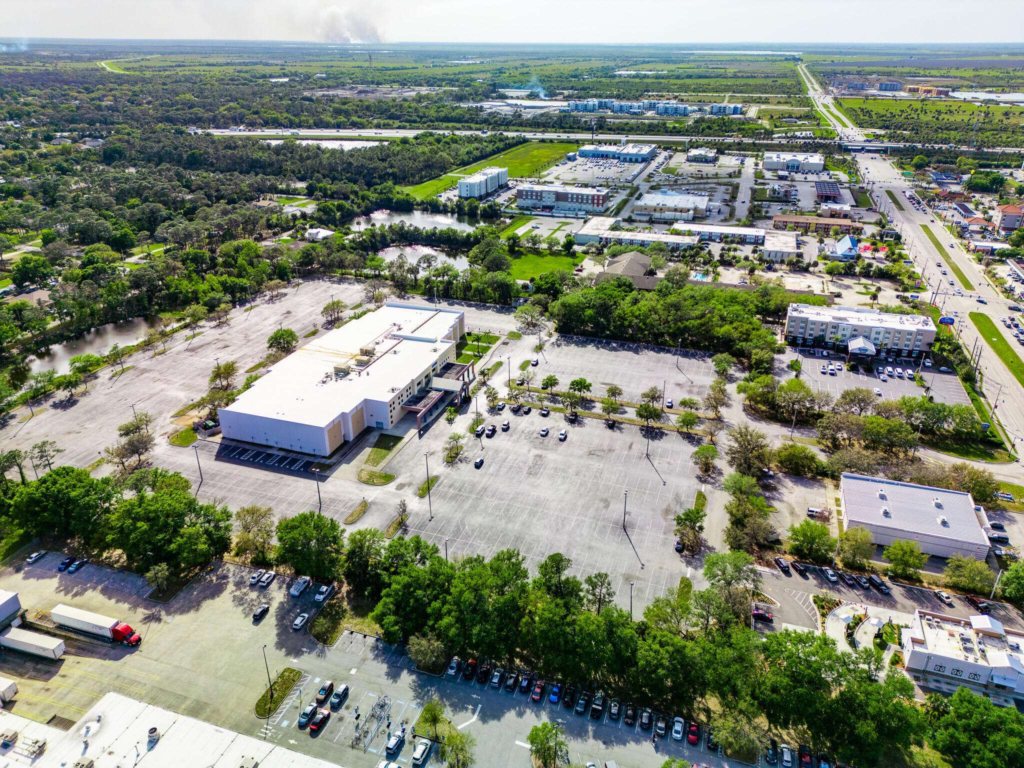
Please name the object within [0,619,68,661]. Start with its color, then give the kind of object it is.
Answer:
white trailer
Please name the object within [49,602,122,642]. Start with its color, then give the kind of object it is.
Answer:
white trailer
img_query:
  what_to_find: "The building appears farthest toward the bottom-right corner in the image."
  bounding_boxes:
[882,603,1024,692]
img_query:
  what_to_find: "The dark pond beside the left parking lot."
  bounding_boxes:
[23,315,184,380]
